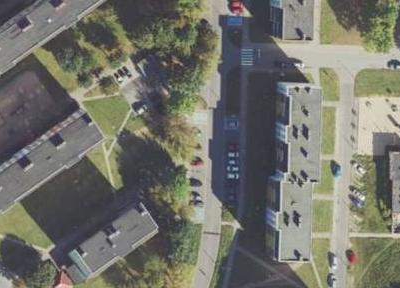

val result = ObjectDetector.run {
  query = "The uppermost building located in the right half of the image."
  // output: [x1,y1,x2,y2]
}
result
[269,0,314,40]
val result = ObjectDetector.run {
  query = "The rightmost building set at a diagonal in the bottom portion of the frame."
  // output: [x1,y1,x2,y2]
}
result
[63,199,158,283]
